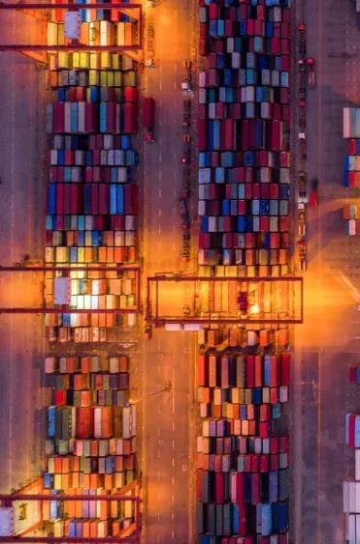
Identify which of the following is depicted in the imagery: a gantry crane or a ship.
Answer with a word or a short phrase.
gantry crane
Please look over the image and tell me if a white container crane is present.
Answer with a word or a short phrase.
No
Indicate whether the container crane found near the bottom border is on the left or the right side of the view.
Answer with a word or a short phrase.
left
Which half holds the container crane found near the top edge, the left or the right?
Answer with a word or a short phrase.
left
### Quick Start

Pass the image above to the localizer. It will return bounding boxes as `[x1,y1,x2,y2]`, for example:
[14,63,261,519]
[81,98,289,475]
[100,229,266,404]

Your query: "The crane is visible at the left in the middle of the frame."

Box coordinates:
[0,255,150,318]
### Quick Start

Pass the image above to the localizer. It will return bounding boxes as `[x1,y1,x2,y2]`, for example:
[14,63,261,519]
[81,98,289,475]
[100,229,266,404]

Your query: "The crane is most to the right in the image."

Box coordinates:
[147,265,304,331]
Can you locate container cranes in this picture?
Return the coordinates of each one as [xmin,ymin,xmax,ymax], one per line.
[147,265,304,331]
[0,255,150,318]
[0,2,152,68]
[0,473,149,544]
